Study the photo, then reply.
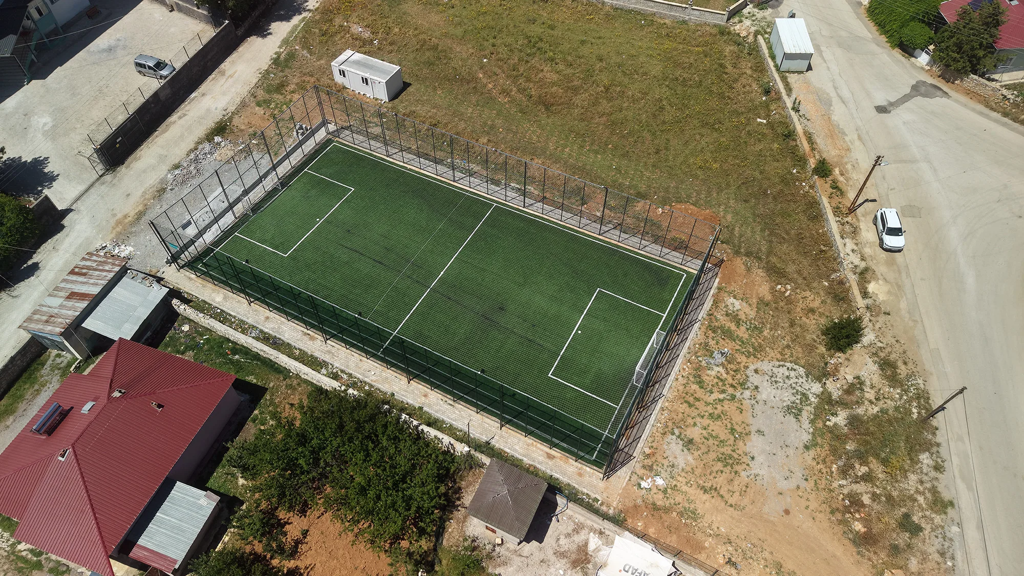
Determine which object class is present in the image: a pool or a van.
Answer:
van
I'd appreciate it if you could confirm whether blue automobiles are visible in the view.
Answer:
No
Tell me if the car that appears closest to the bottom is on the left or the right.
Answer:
right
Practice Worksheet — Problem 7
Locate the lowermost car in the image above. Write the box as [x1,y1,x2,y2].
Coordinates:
[873,209,911,254]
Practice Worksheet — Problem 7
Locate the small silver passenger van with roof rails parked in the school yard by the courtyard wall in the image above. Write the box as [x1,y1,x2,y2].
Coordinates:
[131,51,176,80]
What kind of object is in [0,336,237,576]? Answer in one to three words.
house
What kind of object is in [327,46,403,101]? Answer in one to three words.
building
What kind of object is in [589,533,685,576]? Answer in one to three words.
tent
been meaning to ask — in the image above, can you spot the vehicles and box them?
[873,209,911,254]
[131,51,176,80]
